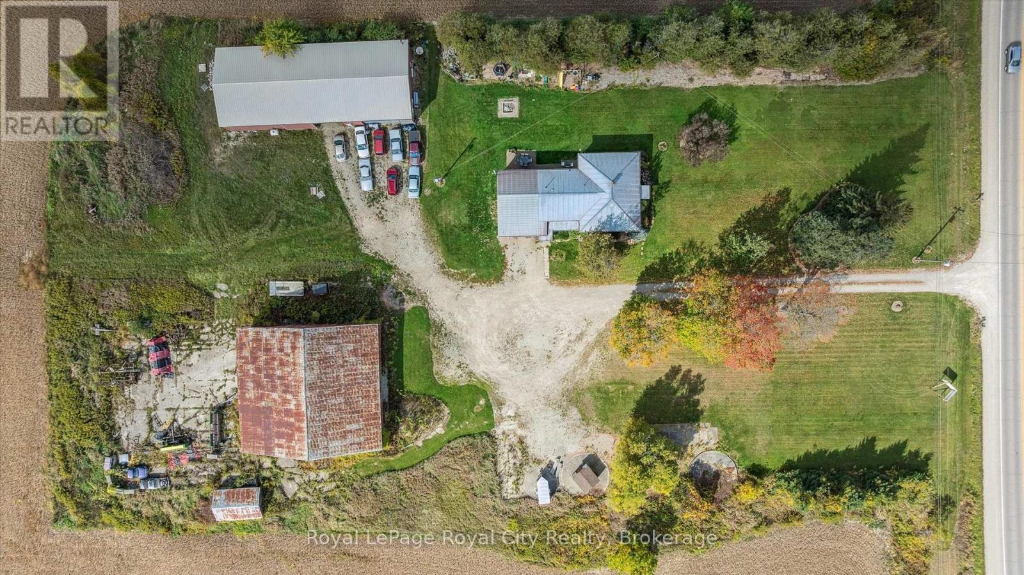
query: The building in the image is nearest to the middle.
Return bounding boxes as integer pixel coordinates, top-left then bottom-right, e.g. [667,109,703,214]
[497,151,650,237]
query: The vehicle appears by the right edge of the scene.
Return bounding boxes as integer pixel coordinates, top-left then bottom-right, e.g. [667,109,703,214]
[1004,46,1023,75]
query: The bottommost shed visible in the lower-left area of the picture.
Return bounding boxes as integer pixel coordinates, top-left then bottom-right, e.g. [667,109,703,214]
[209,486,266,520]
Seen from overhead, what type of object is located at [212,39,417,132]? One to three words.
shed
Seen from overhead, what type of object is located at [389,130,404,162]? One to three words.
car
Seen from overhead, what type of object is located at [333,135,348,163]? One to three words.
car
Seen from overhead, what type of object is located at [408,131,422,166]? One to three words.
vehicle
